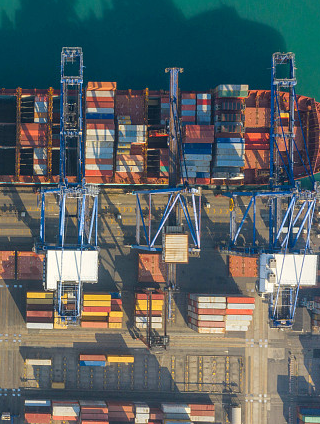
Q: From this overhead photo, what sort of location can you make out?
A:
port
